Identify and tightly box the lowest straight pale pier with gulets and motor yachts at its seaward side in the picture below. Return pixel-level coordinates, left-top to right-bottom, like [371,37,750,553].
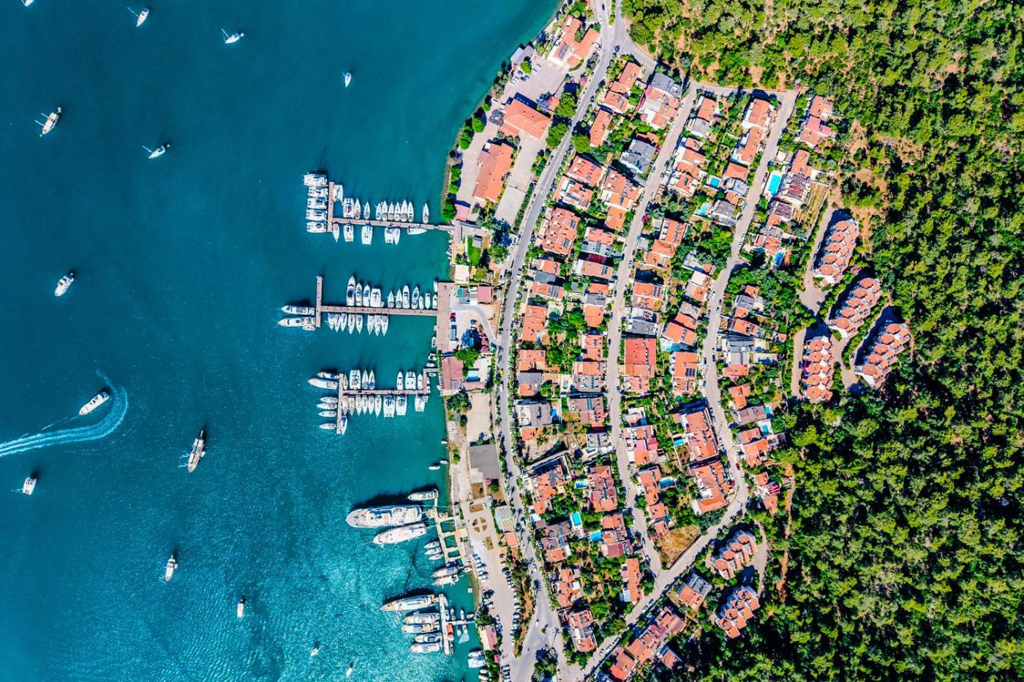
[439,594,477,655]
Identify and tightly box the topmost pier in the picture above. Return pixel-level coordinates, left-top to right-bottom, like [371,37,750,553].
[329,182,451,231]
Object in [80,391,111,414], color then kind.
white boat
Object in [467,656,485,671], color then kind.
white boat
